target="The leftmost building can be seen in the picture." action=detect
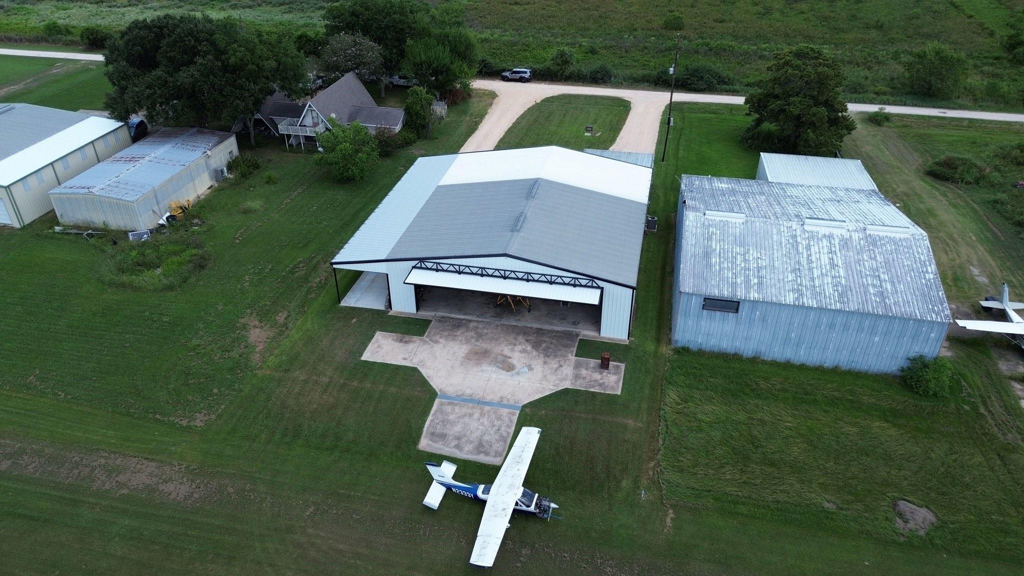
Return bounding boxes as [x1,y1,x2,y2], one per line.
[0,102,134,228]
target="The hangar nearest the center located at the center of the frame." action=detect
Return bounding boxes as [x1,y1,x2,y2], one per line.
[329,144,655,340]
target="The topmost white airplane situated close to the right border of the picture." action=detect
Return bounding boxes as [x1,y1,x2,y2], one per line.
[956,289,1024,354]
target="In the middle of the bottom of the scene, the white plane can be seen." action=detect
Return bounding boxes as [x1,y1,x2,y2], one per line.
[421,426,561,568]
